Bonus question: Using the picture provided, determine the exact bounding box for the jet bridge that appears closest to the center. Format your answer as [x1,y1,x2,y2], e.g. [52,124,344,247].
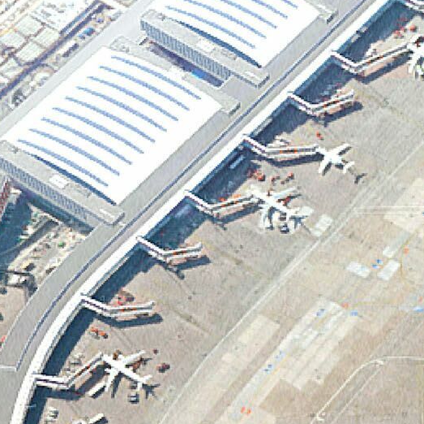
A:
[186,196,258,221]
